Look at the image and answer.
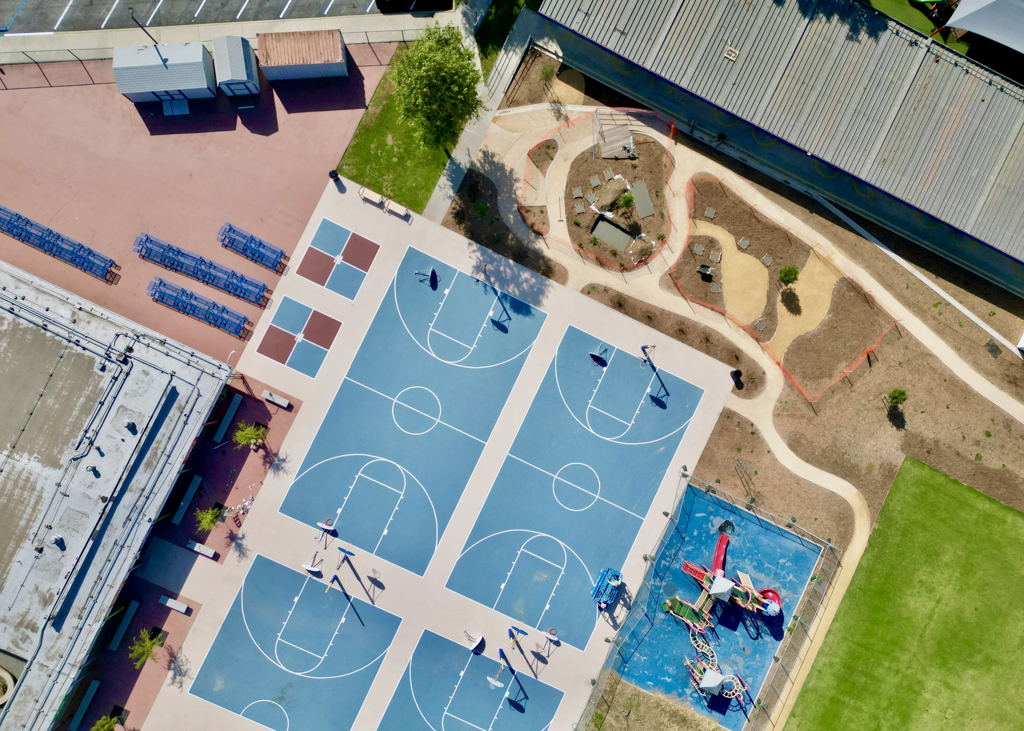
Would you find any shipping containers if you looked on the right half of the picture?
No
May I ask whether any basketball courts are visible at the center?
Yes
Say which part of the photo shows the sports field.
bottom right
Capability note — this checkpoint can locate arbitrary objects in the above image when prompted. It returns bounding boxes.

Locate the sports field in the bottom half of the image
[784,456,1024,731]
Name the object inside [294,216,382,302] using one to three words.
sports court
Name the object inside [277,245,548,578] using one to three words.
basketball court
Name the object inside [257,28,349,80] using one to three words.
shipping container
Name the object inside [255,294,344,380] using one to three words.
sports court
